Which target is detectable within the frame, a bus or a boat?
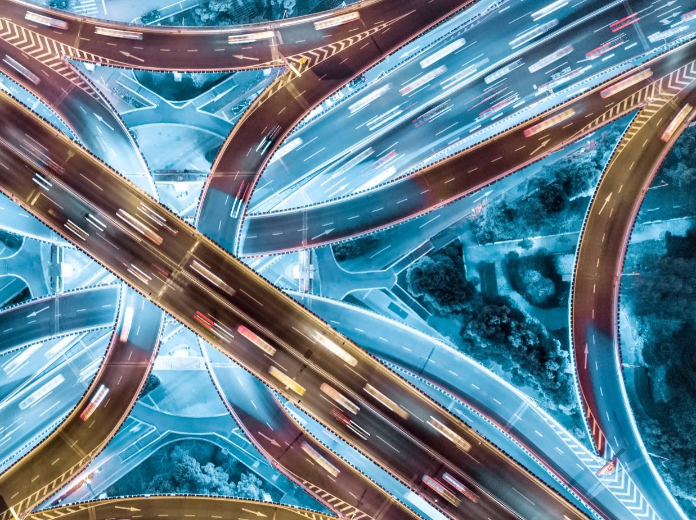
bus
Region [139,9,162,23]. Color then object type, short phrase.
blue vehicle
